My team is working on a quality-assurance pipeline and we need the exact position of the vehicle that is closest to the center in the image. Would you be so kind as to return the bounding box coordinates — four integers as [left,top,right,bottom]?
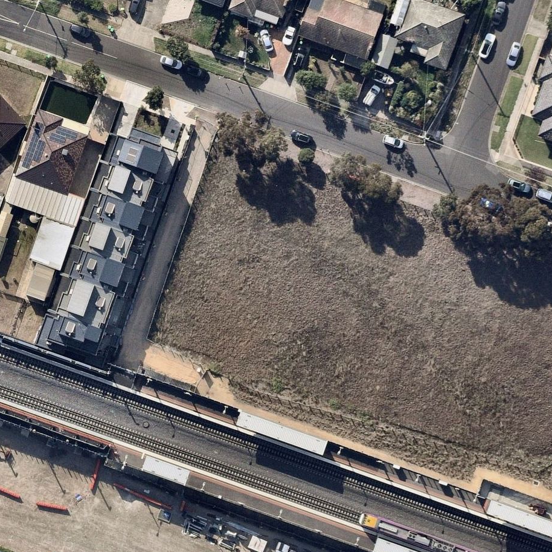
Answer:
[289,129,315,145]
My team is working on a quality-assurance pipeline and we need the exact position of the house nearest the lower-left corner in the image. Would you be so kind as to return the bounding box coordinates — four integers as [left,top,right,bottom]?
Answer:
[36,314,103,356]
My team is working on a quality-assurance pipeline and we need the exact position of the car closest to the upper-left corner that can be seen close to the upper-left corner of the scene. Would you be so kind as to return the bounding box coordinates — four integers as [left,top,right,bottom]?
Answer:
[68,23,94,39]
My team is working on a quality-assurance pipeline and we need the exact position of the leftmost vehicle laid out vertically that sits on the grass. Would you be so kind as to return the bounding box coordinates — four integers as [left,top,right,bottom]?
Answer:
[260,28,273,53]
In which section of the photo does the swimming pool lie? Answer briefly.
top left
